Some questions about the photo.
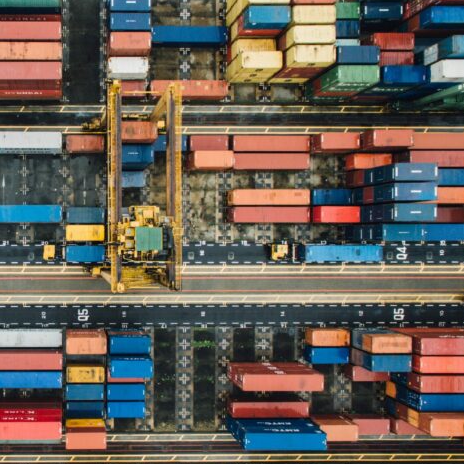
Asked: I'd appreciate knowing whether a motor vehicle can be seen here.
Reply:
Yes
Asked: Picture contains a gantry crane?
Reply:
Yes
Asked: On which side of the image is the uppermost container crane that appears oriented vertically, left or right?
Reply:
left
